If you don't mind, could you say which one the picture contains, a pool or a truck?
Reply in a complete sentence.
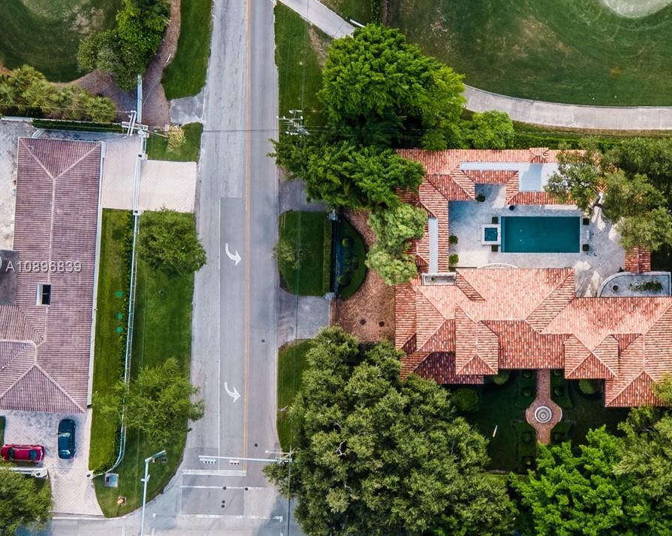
The one in the frame is a pool.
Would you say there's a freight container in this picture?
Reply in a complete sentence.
No, I find no freight container anywhere in the image.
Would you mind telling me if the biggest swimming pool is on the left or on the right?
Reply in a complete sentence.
The biggest swimming pool sits on the right side.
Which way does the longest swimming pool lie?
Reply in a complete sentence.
The longest swimming pool is laid out from left to right.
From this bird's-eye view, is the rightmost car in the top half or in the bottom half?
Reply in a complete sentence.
The rightmost car is in the bottom half of the image.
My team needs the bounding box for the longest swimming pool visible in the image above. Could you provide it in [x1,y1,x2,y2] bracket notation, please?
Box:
[500,214,580,253]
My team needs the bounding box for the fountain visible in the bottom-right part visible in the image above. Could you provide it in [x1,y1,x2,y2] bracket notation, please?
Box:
[534,405,552,424]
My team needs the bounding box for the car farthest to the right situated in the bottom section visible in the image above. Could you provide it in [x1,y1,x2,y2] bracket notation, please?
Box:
[52,419,74,459]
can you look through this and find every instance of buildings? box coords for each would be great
[0,138,110,412]
[395,148,672,408]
